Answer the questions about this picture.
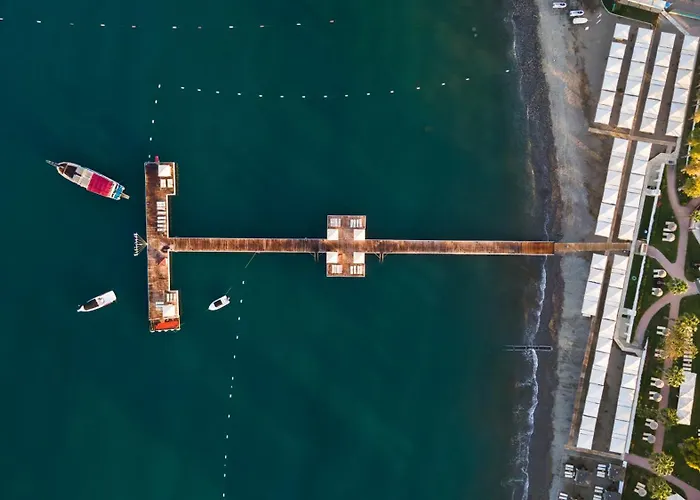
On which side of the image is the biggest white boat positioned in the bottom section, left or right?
left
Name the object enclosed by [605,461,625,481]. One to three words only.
umbrella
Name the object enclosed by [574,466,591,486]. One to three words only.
umbrella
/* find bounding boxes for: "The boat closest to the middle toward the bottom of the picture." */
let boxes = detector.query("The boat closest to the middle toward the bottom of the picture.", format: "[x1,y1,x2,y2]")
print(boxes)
[208,295,230,311]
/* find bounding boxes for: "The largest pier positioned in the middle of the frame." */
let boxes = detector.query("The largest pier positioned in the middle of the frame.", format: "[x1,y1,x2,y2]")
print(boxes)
[145,162,554,333]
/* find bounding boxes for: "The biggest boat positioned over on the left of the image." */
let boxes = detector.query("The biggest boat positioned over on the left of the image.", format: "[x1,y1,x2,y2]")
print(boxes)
[44,159,133,200]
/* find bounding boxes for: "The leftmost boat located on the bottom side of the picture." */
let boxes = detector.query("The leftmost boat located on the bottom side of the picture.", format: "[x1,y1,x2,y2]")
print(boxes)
[75,290,118,312]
